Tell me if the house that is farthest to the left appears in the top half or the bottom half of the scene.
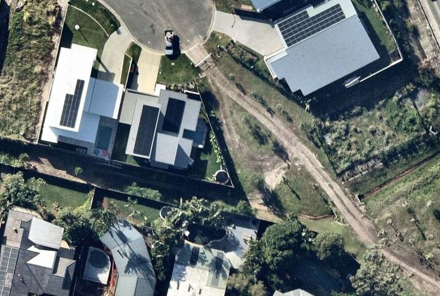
bottom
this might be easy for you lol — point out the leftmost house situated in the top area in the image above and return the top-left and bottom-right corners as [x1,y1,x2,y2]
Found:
[42,44,123,143]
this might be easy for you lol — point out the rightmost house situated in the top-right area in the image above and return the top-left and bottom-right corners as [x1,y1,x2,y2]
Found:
[265,0,381,96]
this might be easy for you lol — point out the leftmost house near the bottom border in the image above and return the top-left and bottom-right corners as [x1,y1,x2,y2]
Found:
[0,210,76,296]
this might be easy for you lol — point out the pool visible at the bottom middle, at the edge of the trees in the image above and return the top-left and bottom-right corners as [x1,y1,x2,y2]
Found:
[184,224,228,247]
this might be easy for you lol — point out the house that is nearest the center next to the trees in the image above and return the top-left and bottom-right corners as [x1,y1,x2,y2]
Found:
[120,90,201,168]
